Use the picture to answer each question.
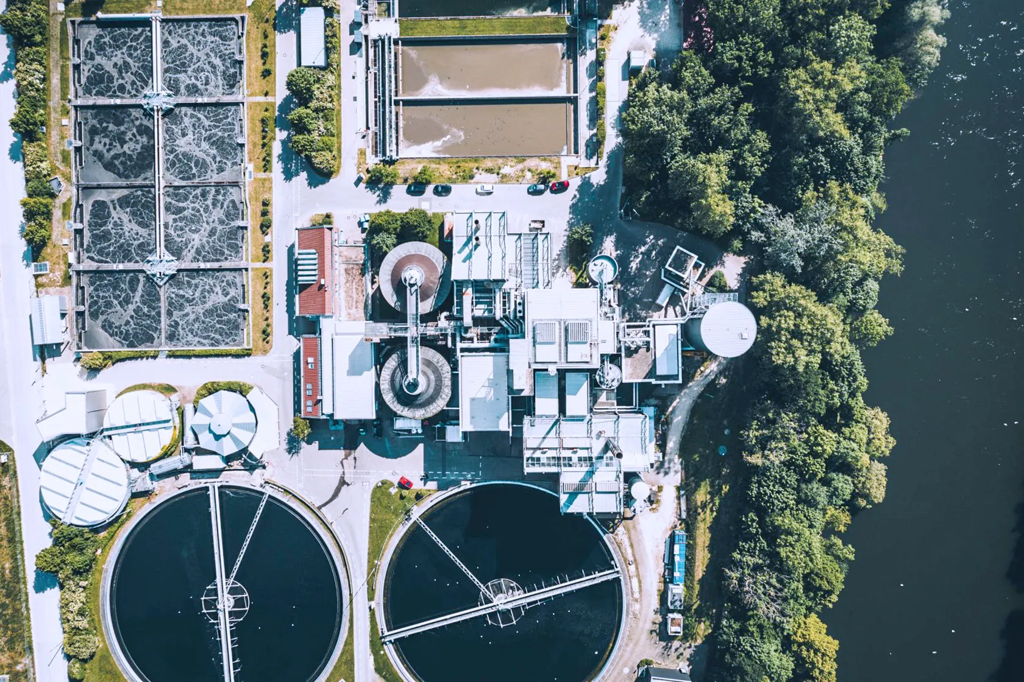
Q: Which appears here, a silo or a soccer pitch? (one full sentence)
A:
The one in the frame is a silo.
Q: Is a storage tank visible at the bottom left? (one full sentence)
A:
Yes, at the bottom left there is a storage tank.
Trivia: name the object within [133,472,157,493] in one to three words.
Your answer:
building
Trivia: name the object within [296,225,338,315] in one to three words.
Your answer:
house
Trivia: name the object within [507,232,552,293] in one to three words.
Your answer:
building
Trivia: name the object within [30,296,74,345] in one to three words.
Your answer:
shed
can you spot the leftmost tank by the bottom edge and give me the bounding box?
[103,475,351,682]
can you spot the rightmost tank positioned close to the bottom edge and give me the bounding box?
[379,479,625,682]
